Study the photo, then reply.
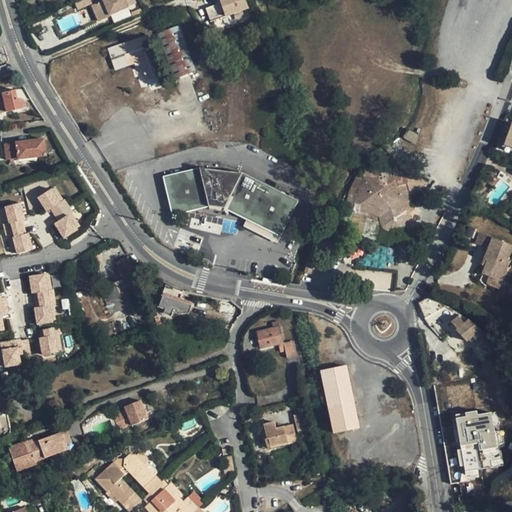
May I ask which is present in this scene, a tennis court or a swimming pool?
swimming pool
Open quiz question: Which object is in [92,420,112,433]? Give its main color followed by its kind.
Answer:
green swimming pool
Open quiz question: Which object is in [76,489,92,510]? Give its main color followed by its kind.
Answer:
blue swimming pool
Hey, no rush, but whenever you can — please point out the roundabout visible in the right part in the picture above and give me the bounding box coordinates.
[354,296,413,354]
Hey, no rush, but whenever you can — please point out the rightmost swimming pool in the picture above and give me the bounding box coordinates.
[488,181,510,205]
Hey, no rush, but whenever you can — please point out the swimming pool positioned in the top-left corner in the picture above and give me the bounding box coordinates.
[56,12,78,33]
